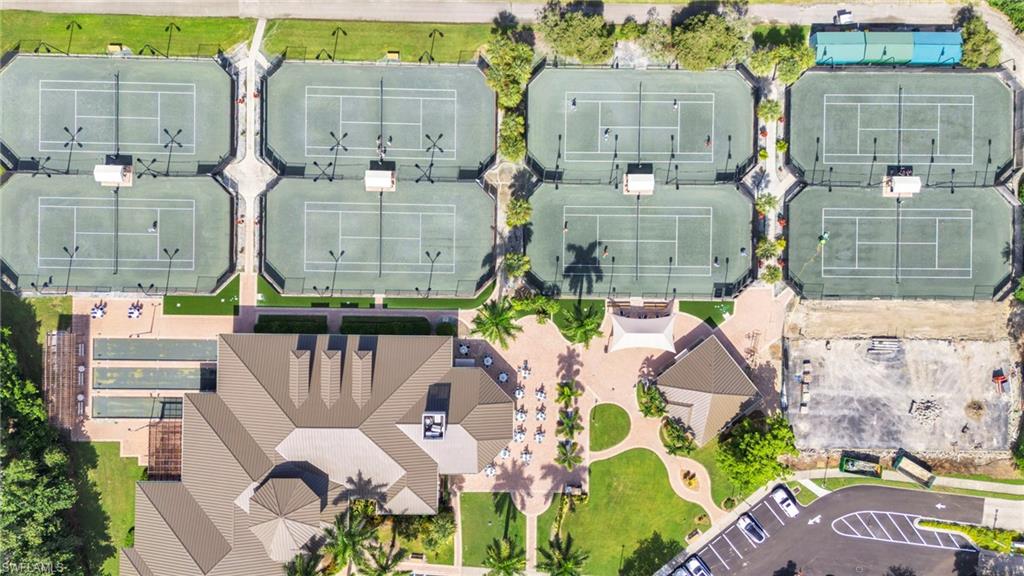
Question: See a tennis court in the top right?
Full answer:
Yes, in the top right there is a tennis court.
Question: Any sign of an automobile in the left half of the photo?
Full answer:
No, in the left half of the photo there is no automobile.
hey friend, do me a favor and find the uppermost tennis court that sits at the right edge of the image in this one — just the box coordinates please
[794,73,1014,184]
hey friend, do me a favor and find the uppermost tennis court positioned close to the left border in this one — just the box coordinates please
[0,56,227,174]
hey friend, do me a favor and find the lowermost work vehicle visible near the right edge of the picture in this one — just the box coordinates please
[994,368,1009,393]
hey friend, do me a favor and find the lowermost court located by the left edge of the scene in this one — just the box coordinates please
[0,173,226,291]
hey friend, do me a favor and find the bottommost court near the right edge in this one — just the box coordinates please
[794,185,1013,298]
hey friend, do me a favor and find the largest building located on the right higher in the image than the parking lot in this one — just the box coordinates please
[655,335,763,447]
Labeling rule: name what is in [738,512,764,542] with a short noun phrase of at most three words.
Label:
car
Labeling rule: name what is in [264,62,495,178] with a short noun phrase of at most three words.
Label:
tennis court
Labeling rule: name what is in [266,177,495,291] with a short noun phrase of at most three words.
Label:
tennis court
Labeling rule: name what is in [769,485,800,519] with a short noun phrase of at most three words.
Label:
car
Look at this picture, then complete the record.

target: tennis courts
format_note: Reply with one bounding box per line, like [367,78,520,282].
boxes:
[794,73,1014,184]
[526,183,752,294]
[0,56,227,174]
[0,173,226,291]
[264,62,495,178]
[266,177,495,291]
[526,69,753,182]
[794,185,1013,298]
